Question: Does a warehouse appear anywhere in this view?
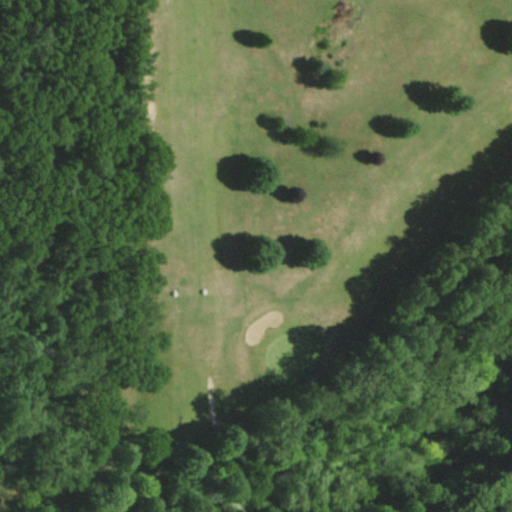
No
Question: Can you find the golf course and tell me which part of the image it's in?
center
